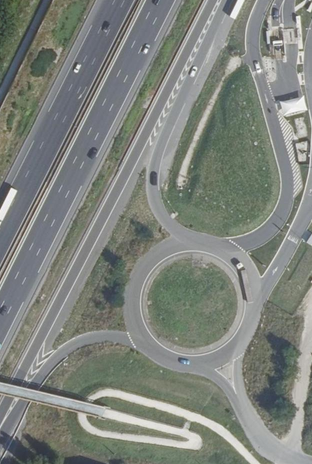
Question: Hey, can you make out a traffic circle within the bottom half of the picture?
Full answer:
Yes, a traffic circle shows up within the bottom half of the picture.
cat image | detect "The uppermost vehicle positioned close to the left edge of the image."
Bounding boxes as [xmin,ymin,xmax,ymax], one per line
[0,189,16,225]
